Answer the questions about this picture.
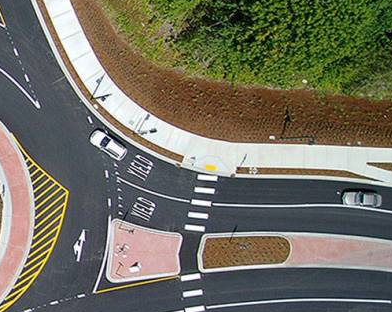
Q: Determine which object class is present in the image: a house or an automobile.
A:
automobile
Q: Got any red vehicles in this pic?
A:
No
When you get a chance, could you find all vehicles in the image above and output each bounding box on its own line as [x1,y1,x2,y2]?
[341,191,384,208]
[90,131,128,160]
